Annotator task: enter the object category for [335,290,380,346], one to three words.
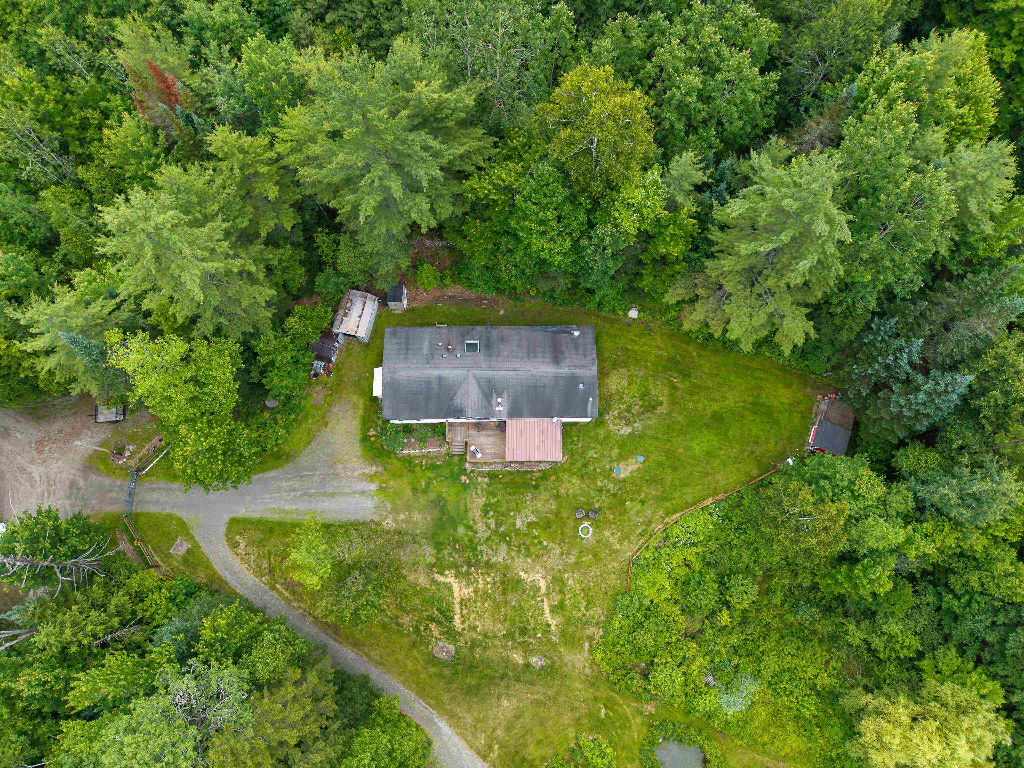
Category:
shed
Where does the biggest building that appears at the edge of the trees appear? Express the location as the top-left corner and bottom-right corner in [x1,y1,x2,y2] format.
[373,320,598,424]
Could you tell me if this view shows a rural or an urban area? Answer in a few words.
rural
